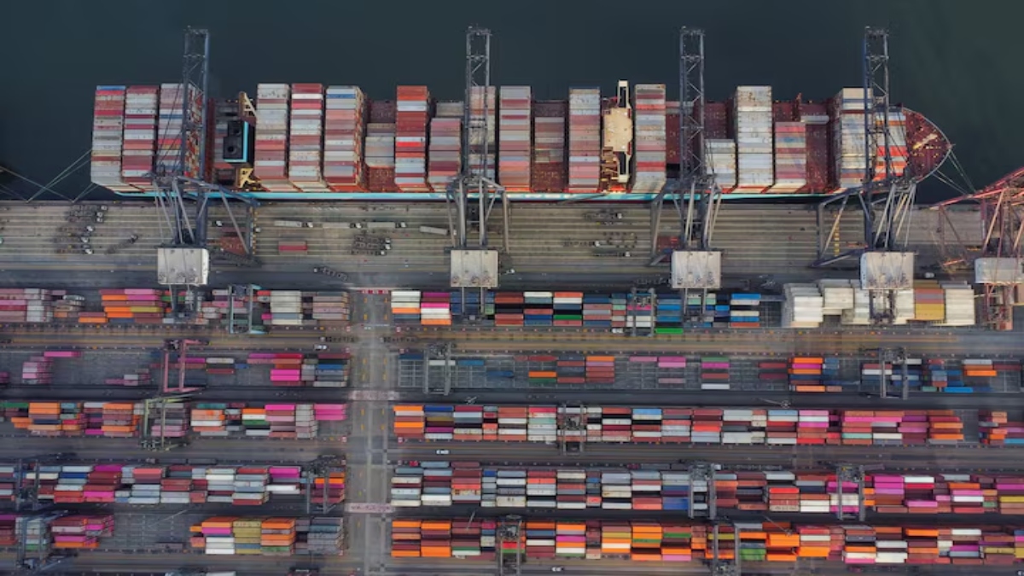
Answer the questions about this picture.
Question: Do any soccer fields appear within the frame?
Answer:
No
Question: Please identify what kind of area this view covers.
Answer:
port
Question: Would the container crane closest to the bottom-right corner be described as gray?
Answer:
Yes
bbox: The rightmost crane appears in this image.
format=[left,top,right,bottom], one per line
[925,167,1024,326]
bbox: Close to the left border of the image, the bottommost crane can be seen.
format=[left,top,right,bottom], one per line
[16,503,77,574]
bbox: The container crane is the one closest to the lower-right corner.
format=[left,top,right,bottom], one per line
[815,455,863,520]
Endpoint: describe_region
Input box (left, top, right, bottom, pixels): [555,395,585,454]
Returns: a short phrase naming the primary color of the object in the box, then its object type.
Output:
gray container crane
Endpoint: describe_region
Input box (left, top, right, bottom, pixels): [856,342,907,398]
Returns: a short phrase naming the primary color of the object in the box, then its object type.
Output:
gray container crane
